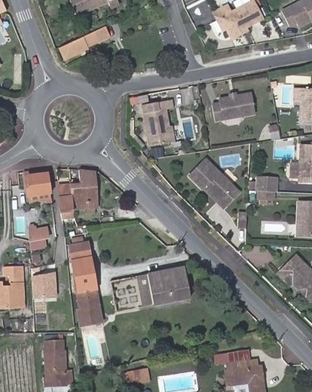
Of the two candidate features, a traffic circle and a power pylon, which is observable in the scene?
traffic circle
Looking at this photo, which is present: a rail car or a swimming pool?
swimming pool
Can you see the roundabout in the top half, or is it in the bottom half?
top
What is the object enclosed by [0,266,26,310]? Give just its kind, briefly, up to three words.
house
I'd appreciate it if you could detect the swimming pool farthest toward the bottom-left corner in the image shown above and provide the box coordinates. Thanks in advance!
[82,324,110,365]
